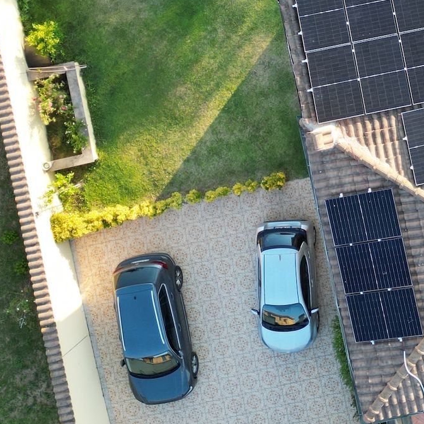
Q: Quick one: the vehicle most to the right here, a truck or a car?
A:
car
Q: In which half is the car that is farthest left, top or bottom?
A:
bottom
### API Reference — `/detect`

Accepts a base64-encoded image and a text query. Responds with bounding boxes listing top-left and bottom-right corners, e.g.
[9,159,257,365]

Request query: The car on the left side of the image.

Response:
[107,246,200,409]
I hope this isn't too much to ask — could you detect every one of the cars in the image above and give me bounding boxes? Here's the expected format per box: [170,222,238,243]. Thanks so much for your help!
[249,217,320,355]
[107,246,200,409]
